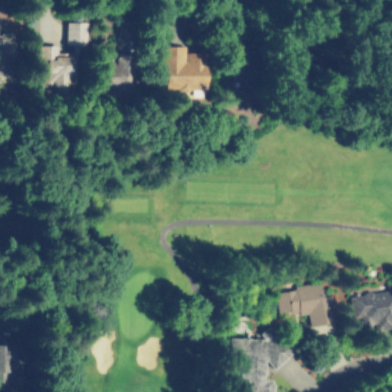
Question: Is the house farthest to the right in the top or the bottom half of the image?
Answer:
bottom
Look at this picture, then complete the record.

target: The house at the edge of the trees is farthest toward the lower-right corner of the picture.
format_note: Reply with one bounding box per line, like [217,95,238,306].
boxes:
[354,293,392,330]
